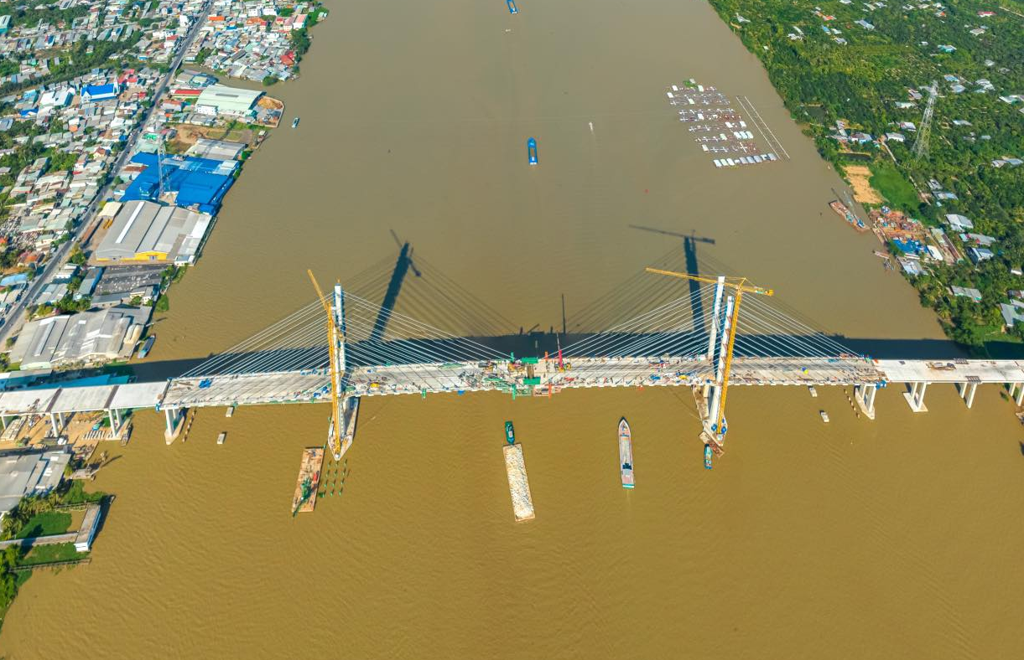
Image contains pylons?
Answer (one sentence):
Yes, a pylon can be made out from above.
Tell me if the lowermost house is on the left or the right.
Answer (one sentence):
The lowermost house sits on the left side.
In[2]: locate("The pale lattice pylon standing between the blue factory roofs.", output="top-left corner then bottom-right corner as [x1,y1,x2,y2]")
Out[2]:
[151,137,169,197]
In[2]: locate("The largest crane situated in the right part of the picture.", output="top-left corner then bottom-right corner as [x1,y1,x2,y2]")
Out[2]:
[647,265,773,437]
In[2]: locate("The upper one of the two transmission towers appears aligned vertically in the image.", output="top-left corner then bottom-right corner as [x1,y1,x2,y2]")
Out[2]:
[912,80,941,160]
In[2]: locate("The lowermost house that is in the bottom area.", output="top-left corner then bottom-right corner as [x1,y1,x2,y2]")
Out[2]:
[75,504,105,550]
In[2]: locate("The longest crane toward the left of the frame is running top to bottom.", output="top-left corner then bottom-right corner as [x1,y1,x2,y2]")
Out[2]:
[302,266,342,448]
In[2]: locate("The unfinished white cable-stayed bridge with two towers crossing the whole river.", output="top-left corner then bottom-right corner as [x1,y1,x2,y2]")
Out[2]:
[0,274,1024,464]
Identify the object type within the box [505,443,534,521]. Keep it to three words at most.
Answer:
ship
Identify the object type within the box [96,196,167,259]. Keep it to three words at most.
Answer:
building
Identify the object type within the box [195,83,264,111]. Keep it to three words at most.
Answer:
building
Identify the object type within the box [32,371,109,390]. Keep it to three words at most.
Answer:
shed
